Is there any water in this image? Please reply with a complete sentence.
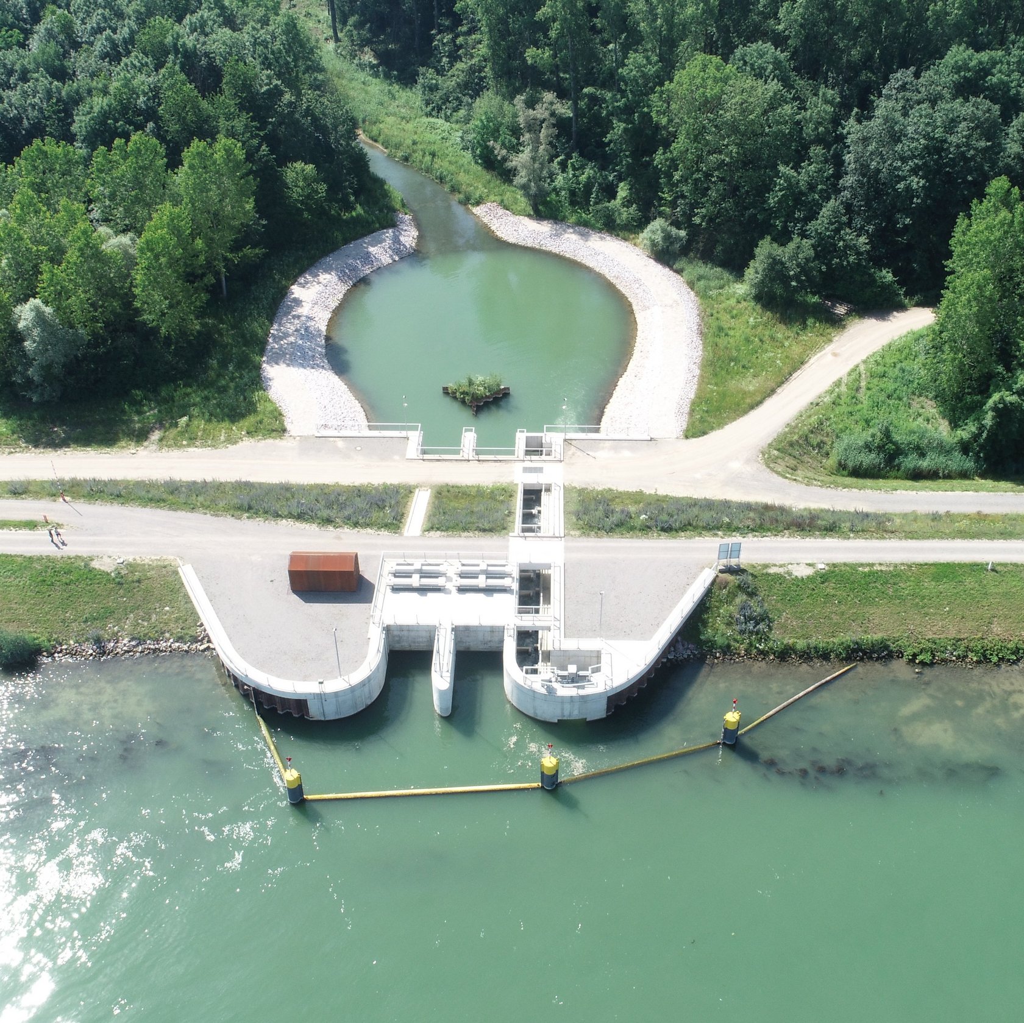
Yes, there is water in the image.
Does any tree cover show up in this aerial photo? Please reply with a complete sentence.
Yes, the picture does contain tree cover.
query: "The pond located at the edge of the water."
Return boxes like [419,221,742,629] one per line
[326,77,631,454]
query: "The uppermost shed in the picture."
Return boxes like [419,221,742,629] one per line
[288,551,359,591]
